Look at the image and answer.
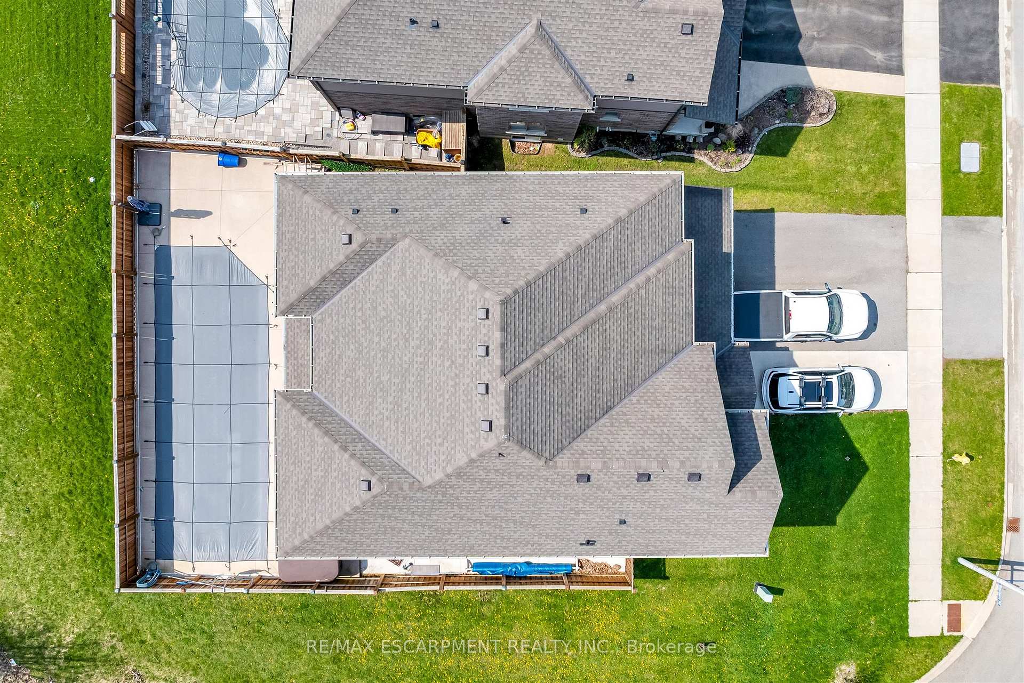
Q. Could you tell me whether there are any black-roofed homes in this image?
No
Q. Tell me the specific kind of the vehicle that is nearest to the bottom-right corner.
automobile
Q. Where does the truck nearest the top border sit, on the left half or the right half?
right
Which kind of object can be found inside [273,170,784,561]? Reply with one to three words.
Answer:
house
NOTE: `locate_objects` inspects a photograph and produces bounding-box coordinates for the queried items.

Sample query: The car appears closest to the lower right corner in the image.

[758,362,872,419]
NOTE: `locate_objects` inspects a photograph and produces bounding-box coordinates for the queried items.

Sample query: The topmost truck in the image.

[735,283,871,349]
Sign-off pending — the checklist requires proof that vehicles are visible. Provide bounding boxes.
[758,362,872,419]
[735,283,871,349]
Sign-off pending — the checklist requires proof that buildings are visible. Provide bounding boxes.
[273,170,784,561]
[286,0,759,144]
